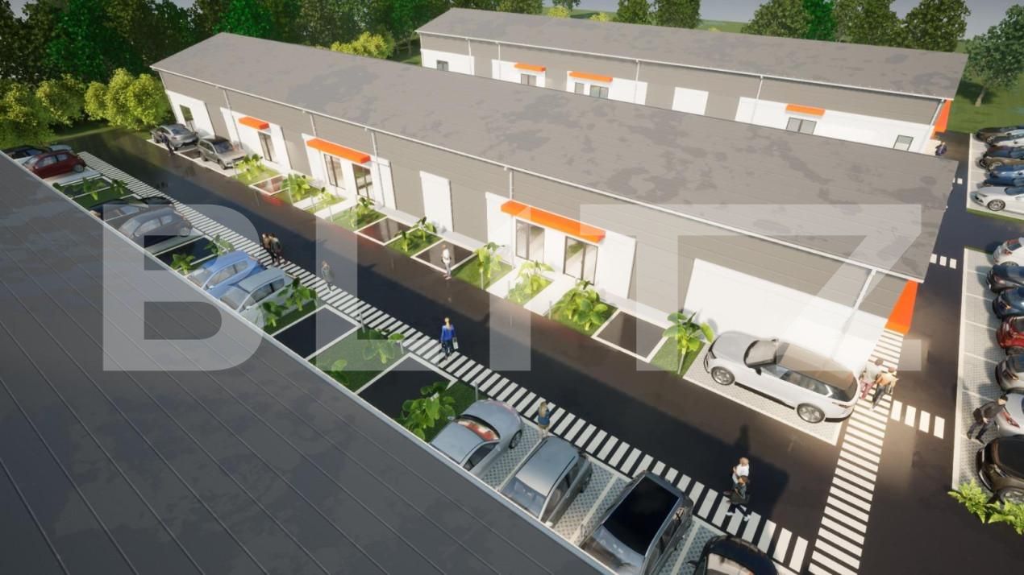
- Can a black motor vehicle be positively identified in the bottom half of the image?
Yes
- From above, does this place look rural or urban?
urban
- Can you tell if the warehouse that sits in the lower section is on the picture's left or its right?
left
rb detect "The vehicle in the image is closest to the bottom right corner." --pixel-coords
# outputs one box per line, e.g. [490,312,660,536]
[978,434,1024,501]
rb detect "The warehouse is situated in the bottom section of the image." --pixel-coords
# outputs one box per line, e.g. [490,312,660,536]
[0,148,632,575]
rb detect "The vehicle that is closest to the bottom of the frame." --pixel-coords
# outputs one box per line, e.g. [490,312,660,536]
[696,537,784,575]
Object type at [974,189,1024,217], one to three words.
car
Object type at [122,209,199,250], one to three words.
car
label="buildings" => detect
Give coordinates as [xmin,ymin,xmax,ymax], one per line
[0,148,632,575]
[151,32,960,377]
